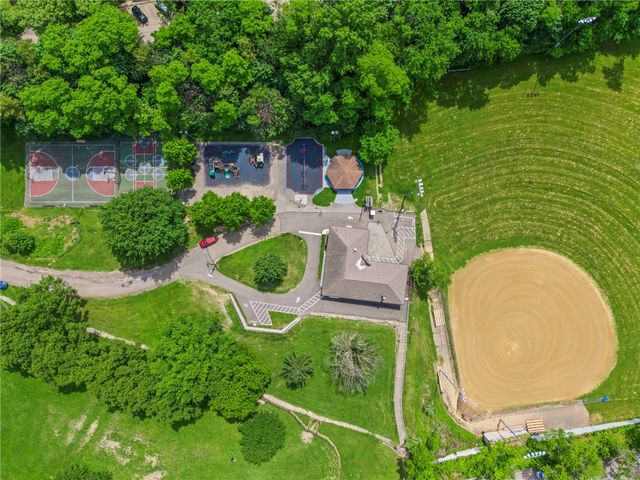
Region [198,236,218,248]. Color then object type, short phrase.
red vehicle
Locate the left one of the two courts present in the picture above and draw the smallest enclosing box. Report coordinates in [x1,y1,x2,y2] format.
[26,142,118,208]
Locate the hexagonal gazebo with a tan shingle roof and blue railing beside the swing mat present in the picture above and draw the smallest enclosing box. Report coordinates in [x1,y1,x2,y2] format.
[323,148,367,204]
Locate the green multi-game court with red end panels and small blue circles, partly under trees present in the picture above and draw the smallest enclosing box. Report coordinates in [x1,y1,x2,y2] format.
[120,138,171,195]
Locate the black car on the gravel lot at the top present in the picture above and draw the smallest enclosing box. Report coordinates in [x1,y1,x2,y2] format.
[132,6,149,28]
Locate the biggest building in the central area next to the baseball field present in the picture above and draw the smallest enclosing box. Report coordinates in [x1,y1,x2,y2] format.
[321,225,408,305]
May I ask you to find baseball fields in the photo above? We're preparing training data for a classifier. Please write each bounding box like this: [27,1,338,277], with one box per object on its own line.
[386,46,640,424]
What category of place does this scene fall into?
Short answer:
sports ground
